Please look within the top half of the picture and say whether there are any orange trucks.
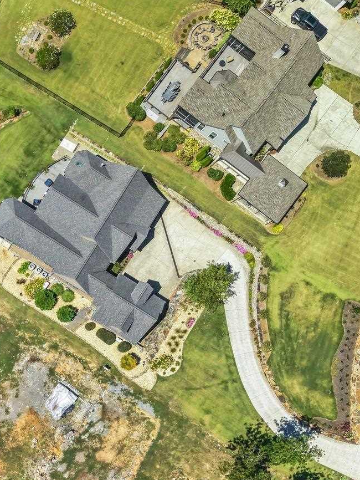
No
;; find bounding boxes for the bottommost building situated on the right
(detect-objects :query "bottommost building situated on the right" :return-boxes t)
[232,156,308,228]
